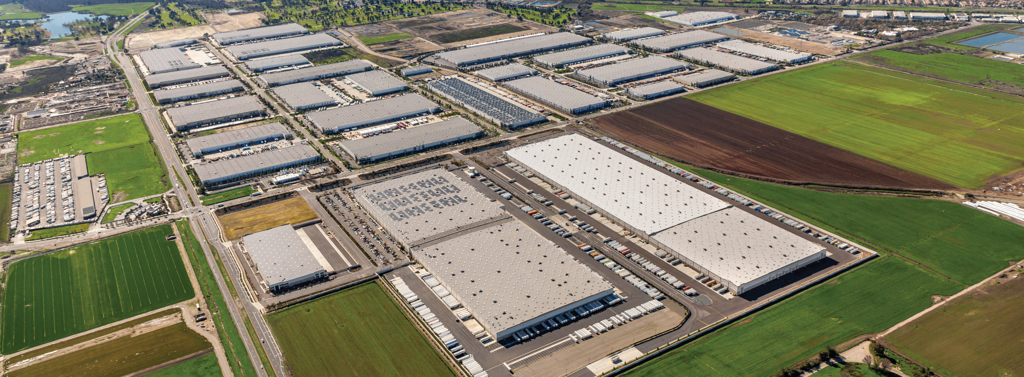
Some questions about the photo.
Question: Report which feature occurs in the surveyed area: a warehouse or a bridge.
warehouse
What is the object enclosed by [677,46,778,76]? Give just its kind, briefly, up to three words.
building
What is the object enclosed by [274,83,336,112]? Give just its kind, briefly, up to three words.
building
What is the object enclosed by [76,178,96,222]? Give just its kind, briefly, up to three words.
shed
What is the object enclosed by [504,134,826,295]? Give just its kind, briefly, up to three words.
warehouse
